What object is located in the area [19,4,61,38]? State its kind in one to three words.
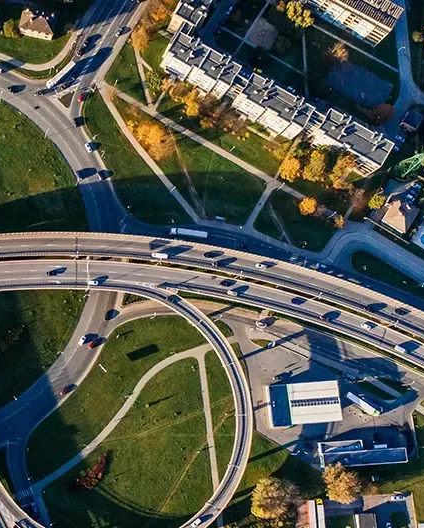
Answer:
house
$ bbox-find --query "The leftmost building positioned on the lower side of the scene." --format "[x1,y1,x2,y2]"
[264,379,343,429]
